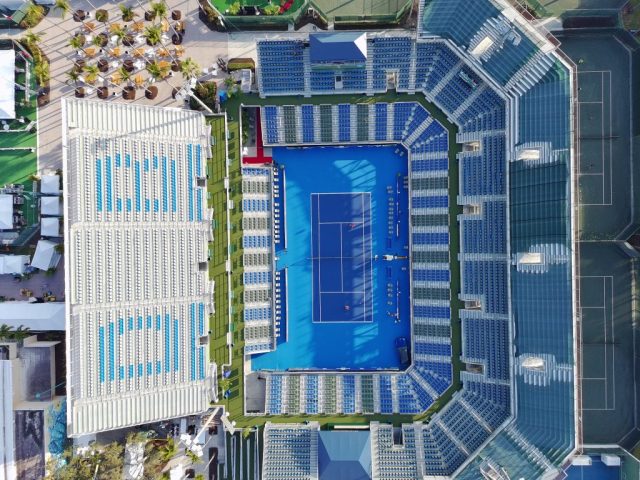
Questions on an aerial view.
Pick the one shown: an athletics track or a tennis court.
tennis court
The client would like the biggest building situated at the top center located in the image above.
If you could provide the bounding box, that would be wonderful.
[309,31,366,72]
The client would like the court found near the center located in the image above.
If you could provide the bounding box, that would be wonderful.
[252,146,410,371]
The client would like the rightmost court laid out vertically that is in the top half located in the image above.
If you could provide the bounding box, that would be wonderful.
[566,36,631,240]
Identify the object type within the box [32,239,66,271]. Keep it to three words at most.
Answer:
tent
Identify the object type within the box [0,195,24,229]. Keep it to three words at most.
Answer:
tent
